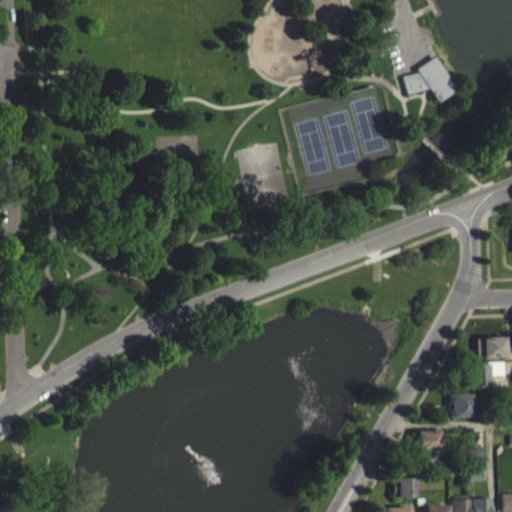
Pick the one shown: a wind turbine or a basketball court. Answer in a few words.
basketball court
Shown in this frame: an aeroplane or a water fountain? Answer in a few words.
water fountain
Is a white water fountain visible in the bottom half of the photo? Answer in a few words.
Yes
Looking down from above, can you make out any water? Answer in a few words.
Yes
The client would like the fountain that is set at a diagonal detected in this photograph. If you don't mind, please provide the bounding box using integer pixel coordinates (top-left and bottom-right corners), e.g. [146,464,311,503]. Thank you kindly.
[186,446,223,489]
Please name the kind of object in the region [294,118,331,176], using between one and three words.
tennis court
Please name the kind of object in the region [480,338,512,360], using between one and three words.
house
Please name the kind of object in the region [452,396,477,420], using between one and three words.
house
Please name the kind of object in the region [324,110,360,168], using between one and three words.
tennis court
